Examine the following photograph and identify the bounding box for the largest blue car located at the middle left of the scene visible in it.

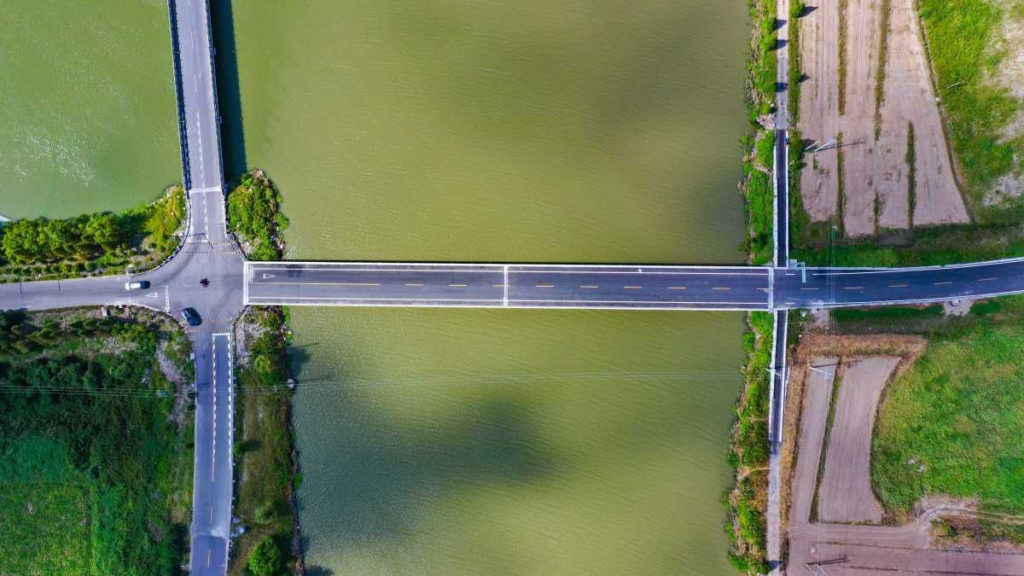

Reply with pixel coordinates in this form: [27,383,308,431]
[181,308,197,327]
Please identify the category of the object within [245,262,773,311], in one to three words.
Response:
bridge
